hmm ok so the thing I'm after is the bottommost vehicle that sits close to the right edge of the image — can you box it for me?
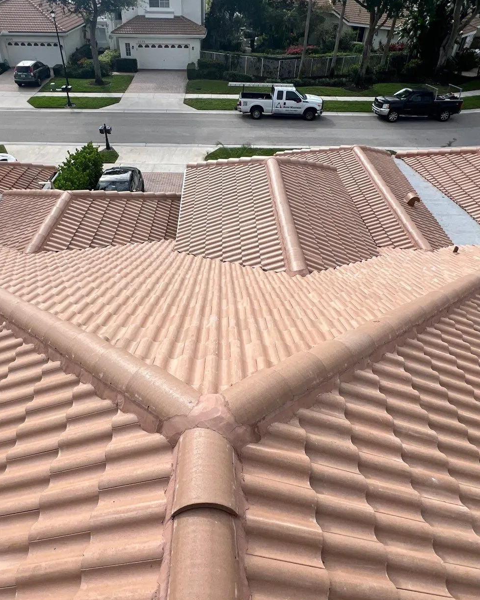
[371,83,468,122]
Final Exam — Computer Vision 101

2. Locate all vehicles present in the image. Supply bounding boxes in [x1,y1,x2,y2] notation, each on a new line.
[371,83,468,122]
[0,154,40,163]
[9,58,46,86]
[236,78,330,121]
[100,163,144,192]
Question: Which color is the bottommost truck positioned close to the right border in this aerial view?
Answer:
black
